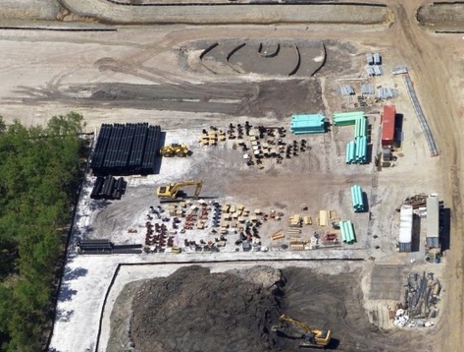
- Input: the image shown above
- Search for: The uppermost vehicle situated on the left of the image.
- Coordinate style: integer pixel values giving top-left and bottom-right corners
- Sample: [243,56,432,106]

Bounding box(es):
[156,137,190,157]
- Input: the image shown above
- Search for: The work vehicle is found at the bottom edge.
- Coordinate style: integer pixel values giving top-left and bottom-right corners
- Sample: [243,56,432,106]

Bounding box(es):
[269,316,331,348]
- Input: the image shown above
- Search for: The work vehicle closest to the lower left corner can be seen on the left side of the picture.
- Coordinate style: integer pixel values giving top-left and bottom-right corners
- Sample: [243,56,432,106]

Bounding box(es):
[157,179,205,204]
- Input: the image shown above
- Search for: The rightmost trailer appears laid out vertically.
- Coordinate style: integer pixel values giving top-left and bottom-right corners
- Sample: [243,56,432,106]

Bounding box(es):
[426,190,440,247]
